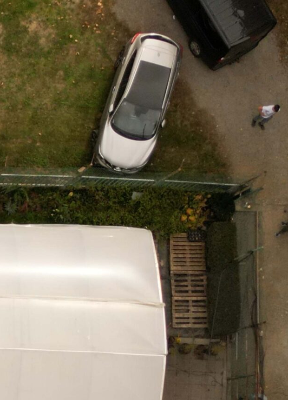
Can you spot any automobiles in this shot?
Yes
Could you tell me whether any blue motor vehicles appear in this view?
No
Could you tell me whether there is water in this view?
No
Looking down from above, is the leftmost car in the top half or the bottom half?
top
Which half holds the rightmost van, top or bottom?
top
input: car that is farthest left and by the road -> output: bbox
[81,31,180,174]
